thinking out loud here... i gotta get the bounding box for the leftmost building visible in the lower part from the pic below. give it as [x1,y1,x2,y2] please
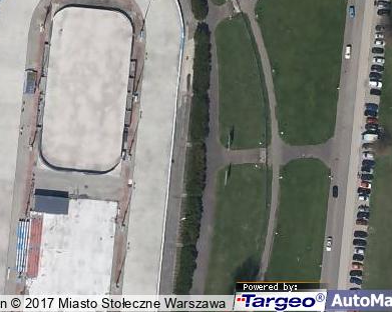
[33,196,69,216]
